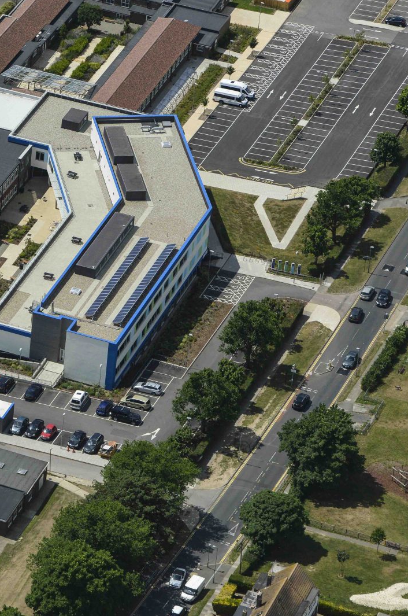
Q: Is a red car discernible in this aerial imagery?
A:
Yes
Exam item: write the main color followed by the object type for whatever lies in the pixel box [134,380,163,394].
gray vehicle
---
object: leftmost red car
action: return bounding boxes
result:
[40,420,59,438]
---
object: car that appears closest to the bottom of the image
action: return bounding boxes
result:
[170,601,187,616]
